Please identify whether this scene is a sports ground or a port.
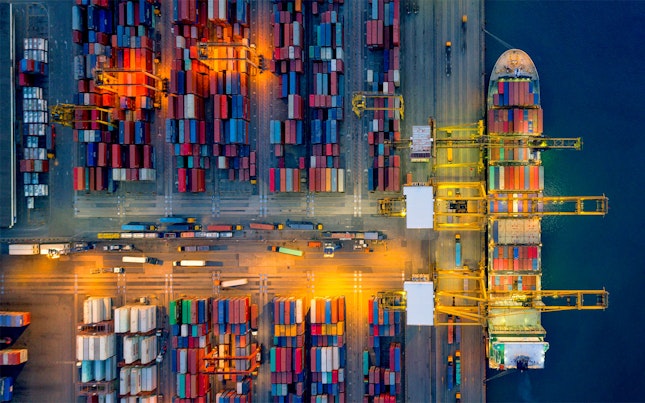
port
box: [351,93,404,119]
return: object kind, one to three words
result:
container crane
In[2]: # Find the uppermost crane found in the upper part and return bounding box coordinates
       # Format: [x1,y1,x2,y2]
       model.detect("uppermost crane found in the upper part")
[195,42,261,71]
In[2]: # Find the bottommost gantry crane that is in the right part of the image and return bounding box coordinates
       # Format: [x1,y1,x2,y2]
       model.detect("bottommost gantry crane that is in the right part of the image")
[379,258,608,327]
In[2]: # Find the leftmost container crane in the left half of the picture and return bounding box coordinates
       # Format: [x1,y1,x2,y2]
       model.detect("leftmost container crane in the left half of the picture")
[35,104,114,129]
